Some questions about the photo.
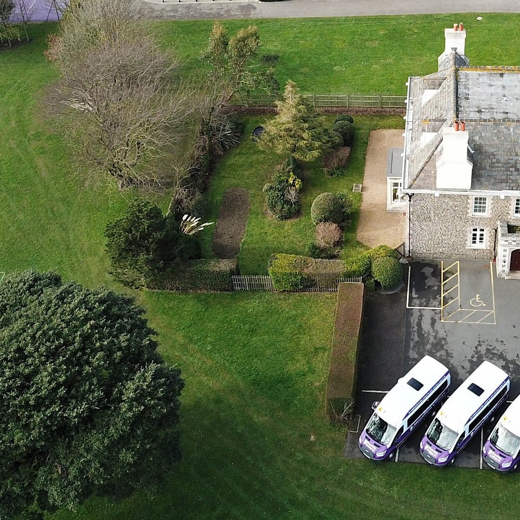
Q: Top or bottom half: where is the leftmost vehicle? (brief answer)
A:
bottom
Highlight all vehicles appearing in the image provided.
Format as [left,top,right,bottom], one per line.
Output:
[358,355,453,467]
[478,392,520,479]
[417,360,511,474]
